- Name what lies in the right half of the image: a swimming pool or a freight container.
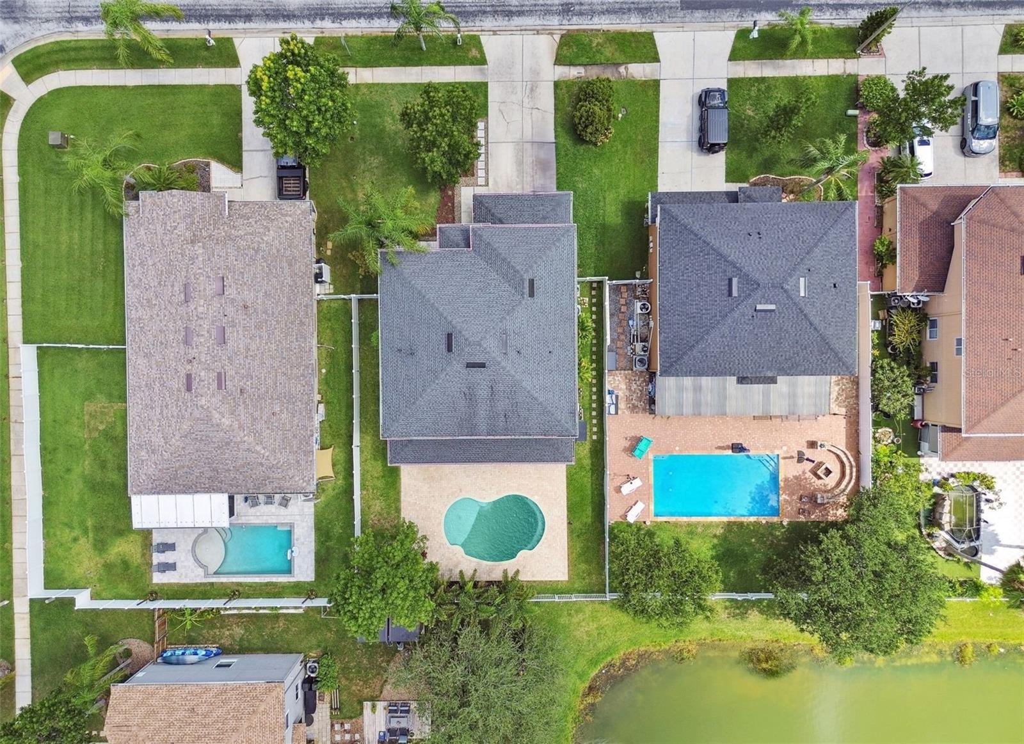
swimming pool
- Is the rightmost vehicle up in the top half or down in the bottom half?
top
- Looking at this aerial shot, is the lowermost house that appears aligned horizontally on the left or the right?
left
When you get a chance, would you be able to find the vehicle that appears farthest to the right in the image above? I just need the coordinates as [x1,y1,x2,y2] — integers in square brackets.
[967,83,1006,156]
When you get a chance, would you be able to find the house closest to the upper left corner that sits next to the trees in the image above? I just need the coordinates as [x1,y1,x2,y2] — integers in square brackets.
[122,187,322,499]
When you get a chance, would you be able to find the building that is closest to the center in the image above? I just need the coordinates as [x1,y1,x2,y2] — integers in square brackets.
[377,190,579,466]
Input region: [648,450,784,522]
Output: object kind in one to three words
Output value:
swimming pool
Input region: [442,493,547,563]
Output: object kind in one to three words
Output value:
swimming pool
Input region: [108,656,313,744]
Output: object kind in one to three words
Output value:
house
